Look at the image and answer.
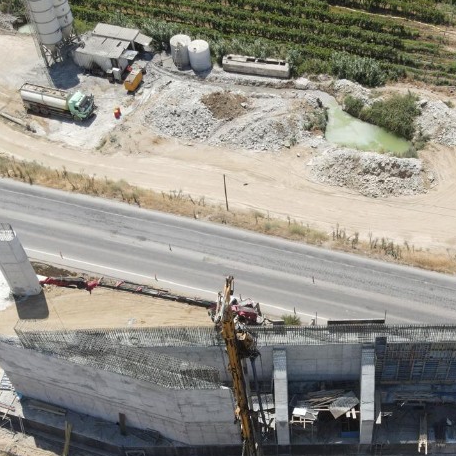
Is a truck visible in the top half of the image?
Yes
